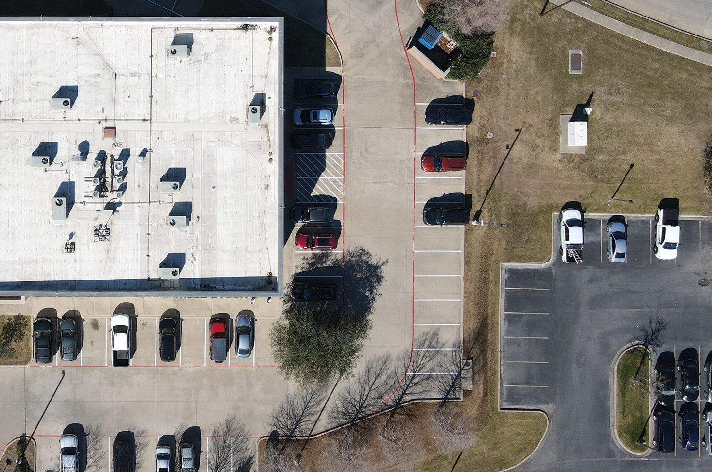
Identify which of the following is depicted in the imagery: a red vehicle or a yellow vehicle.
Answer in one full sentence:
I can see a red vehicle in this picture.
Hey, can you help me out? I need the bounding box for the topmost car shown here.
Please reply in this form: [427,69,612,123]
[293,78,338,100]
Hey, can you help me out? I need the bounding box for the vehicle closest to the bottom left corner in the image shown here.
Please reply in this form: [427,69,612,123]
[58,433,80,472]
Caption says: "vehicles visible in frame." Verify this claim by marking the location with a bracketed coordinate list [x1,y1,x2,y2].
[32,318,53,363]
[234,314,254,358]
[290,282,337,301]
[655,208,682,260]
[424,107,473,127]
[178,442,197,472]
[291,106,333,127]
[58,433,80,472]
[291,132,335,151]
[654,350,679,406]
[293,78,338,100]
[158,318,179,362]
[678,407,703,451]
[420,153,466,174]
[209,318,228,365]
[422,205,470,228]
[291,205,333,225]
[653,409,679,453]
[112,440,133,472]
[703,408,712,454]
[154,445,171,472]
[110,313,132,368]
[57,318,78,361]
[678,347,703,402]
[605,222,629,262]
[560,208,587,263]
